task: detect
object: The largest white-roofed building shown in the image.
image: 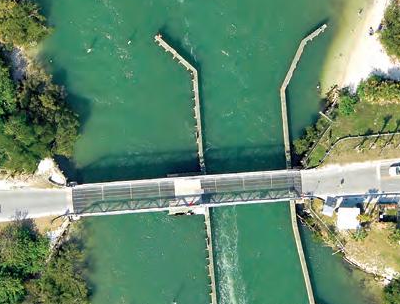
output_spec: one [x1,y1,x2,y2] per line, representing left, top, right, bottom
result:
[336,207,359,228]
